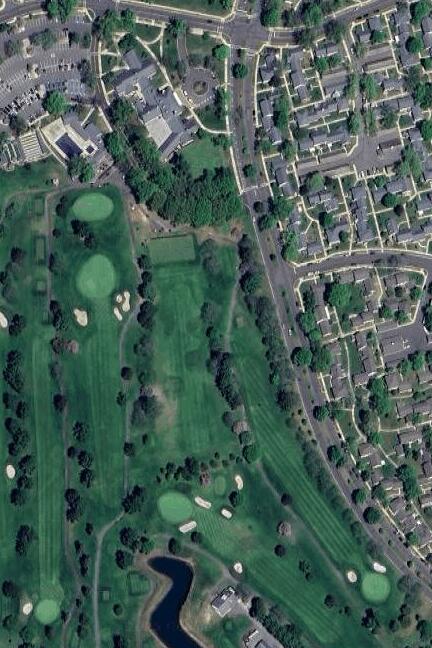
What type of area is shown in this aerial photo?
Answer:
golf course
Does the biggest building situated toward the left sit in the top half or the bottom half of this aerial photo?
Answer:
top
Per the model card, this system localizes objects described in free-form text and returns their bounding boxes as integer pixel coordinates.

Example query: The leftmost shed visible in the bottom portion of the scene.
[212,588,235,617]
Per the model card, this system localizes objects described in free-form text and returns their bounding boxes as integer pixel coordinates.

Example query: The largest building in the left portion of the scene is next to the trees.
[116,49,200,161]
